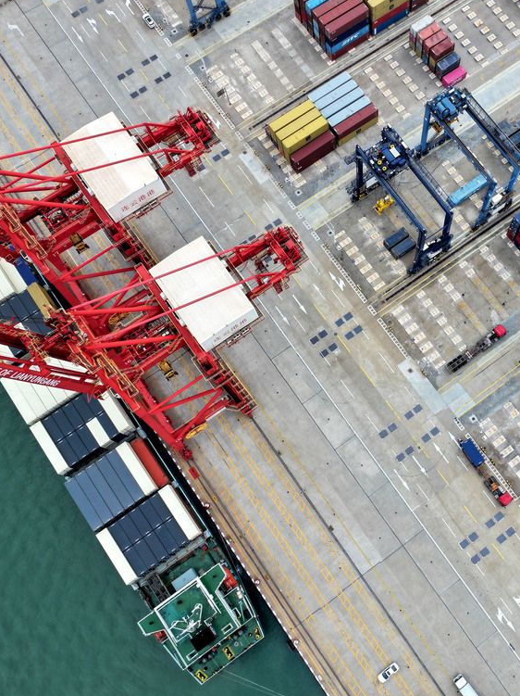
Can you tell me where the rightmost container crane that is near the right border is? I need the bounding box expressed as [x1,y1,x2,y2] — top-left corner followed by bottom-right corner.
[415,77,520,231]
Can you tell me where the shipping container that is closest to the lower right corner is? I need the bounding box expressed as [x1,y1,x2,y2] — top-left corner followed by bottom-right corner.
[459,438,485,467]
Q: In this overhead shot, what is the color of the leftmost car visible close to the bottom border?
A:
white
